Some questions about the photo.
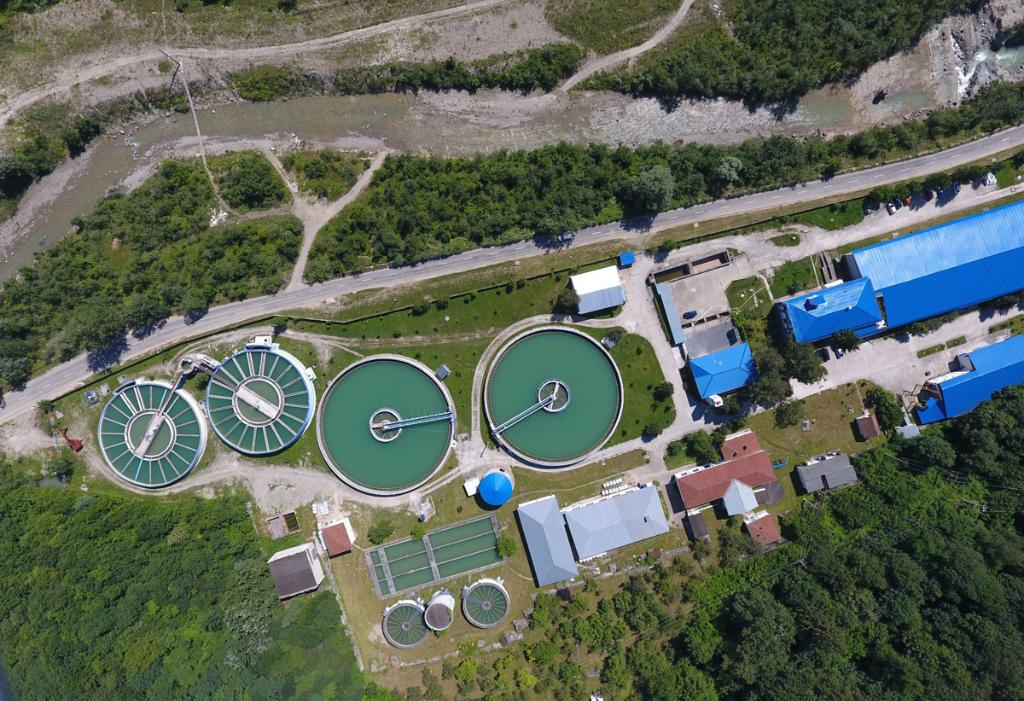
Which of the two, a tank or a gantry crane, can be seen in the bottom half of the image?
tank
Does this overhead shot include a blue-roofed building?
Yes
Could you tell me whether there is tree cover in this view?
Yes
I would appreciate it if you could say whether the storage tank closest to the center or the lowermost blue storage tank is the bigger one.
the storage tank closest to the center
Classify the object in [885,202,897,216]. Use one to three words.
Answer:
vehicle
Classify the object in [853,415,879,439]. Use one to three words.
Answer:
shed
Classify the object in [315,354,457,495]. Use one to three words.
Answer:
storage tank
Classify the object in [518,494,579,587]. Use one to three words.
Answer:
house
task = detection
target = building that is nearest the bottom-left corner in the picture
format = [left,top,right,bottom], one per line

[268,543,324,598]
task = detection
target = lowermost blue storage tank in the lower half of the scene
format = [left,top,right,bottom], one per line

[479,465,512,504]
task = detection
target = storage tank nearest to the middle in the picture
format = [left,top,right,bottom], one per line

[484,326,624,466]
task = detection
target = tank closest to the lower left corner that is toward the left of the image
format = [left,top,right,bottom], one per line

[96,379,210,489]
